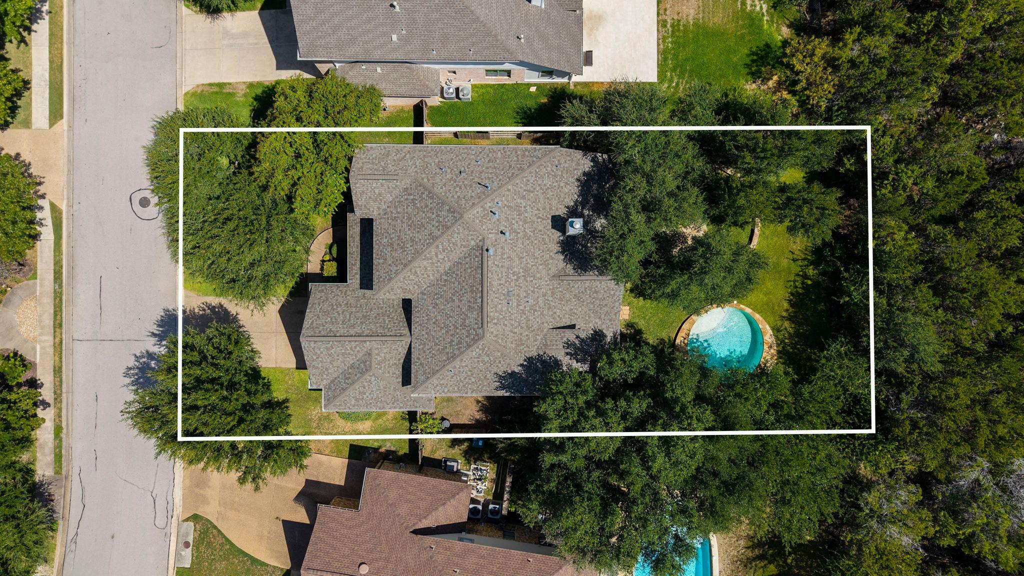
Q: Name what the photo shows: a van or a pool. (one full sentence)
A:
Looking from above, you can make out a pool.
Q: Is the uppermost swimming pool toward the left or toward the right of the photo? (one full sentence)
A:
The uppermost swimming pool is on the right side of the image.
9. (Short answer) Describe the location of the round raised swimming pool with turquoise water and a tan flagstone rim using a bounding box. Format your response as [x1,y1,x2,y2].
[675,301,776,401]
